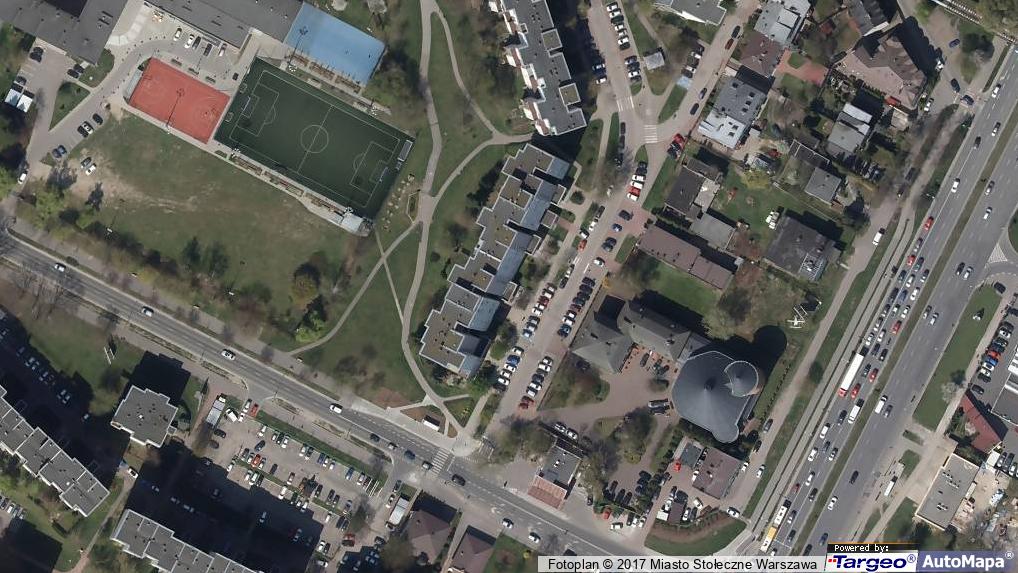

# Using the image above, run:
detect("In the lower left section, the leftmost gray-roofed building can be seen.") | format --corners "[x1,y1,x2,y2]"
[0,385,108,518]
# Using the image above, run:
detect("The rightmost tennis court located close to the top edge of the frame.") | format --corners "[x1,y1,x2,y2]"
[285,1,386,85]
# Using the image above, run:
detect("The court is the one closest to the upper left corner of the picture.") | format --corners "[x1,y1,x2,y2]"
[129,58,230,143]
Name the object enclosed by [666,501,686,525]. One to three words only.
shed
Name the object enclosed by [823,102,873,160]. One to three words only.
house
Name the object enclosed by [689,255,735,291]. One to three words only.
house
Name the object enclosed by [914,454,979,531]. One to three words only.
building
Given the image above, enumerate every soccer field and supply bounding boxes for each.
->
[216,58,413,217]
